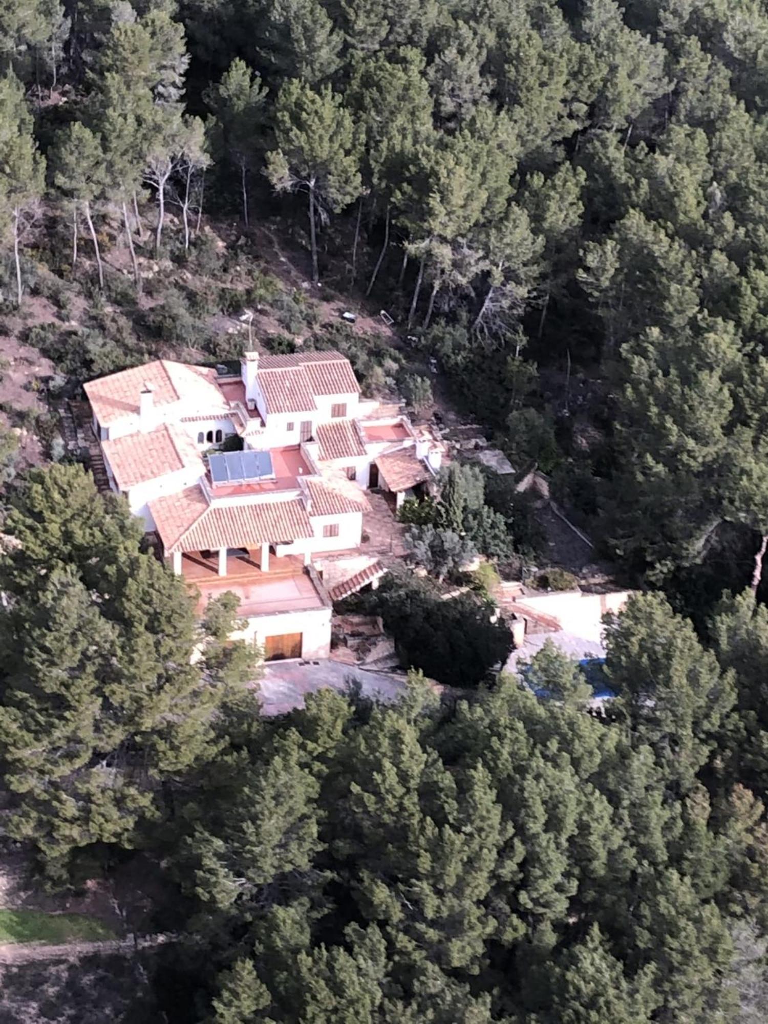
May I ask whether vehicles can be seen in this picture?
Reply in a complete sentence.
No, no vehicle is visible in the view.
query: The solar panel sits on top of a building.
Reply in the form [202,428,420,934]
[209,450,279,487]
